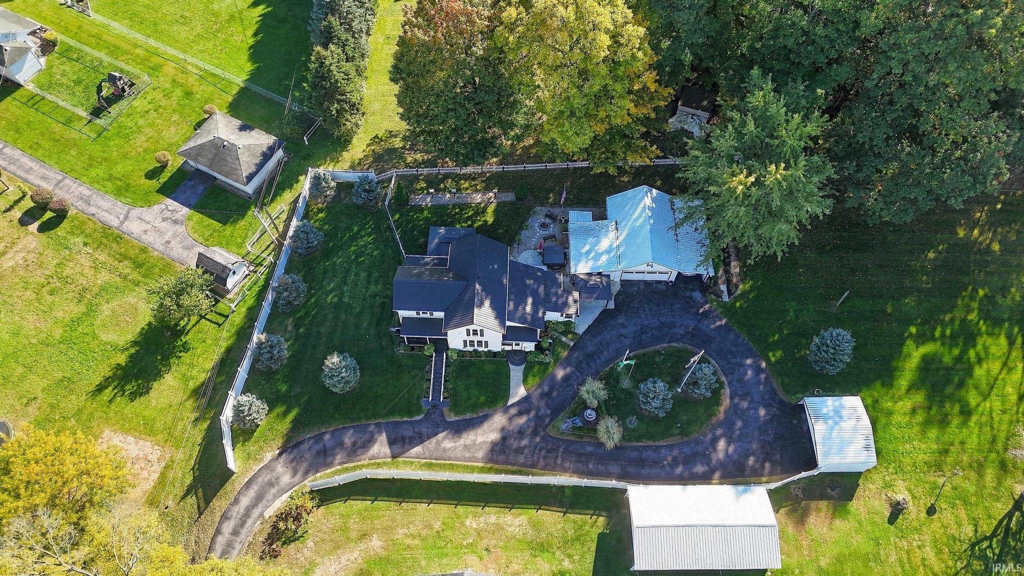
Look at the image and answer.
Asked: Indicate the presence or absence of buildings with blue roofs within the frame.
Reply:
Yes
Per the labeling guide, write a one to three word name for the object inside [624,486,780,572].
barn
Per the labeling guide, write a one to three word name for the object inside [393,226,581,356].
house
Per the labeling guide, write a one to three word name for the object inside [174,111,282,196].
building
